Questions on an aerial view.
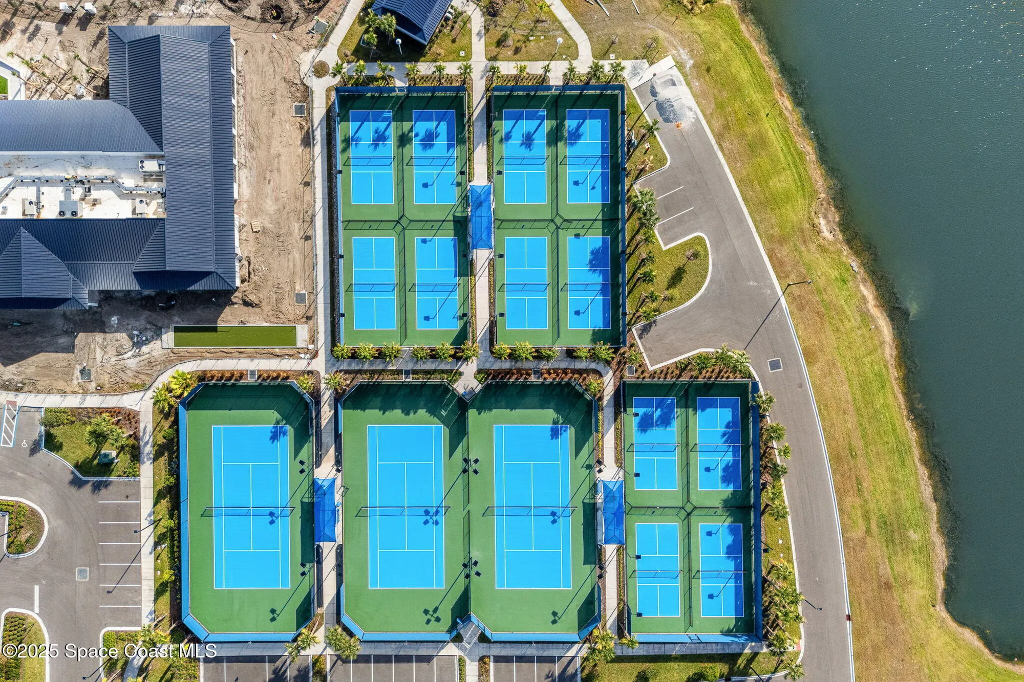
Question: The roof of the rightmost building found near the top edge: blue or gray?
blue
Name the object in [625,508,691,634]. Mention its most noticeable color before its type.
blue sports court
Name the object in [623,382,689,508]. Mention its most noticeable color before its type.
blue sports court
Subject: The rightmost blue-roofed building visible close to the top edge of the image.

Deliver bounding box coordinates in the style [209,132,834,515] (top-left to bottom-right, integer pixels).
[371,0,455,47]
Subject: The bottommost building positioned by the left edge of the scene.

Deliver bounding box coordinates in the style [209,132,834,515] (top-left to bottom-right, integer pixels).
[0,25,238,309]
